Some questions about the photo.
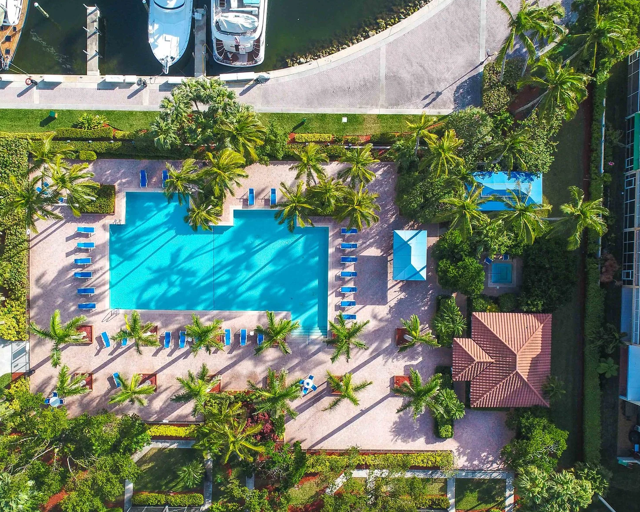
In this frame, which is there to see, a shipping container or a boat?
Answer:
boat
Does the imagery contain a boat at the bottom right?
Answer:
No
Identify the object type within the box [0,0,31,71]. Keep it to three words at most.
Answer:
boat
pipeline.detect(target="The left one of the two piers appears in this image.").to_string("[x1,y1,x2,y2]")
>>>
[87,6,102,75]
